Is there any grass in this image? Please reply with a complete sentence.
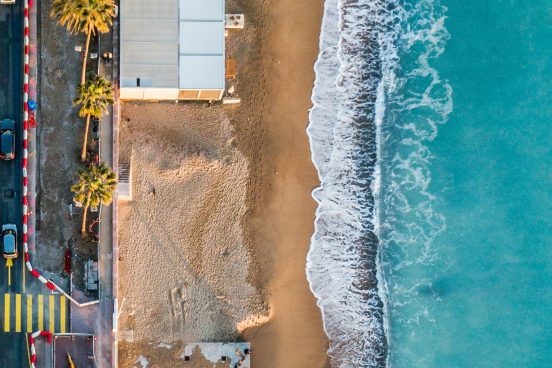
No, the scene doesn't show any grass.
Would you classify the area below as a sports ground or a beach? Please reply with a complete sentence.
It's a beach.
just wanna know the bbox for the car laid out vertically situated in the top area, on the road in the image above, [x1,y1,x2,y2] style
[0,123,17,160]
